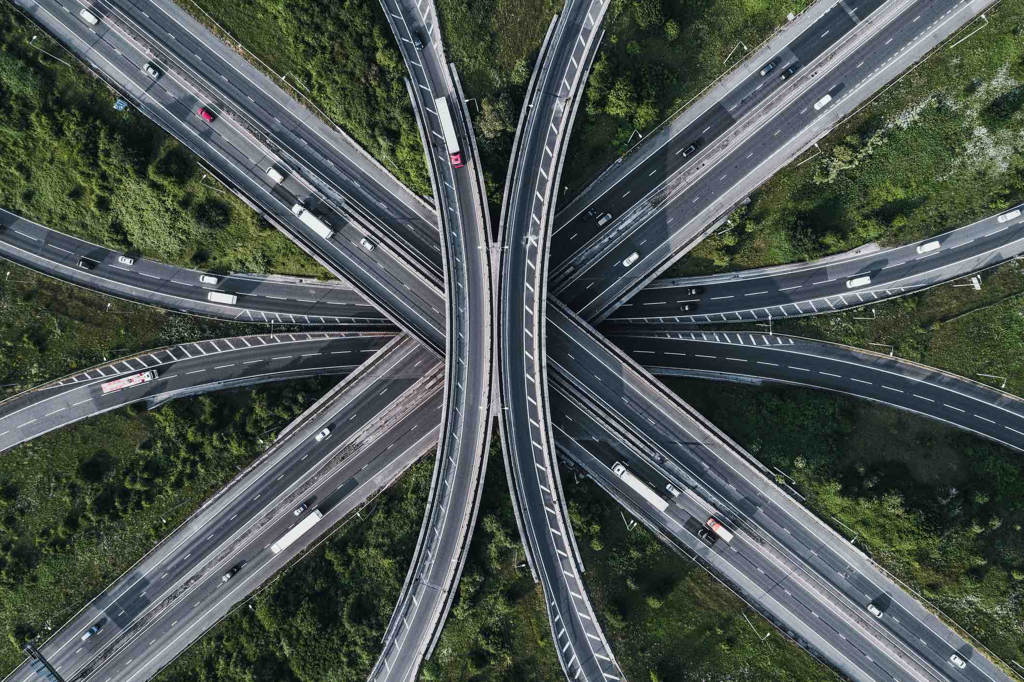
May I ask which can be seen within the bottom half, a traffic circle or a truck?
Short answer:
truck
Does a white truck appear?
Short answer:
Yes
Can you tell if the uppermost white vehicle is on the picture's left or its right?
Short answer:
left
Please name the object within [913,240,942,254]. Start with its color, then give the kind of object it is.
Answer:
white vehicle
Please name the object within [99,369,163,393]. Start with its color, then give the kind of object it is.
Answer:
white truck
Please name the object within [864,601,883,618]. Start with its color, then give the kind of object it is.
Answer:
white car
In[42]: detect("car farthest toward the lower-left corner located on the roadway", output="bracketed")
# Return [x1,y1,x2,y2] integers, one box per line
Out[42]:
[82,622,101,640]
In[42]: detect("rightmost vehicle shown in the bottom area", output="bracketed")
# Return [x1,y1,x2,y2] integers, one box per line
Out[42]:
[947,652,966,669]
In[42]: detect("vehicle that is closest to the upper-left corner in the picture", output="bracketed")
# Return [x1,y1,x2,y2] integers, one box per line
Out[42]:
[81,9,104,30]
